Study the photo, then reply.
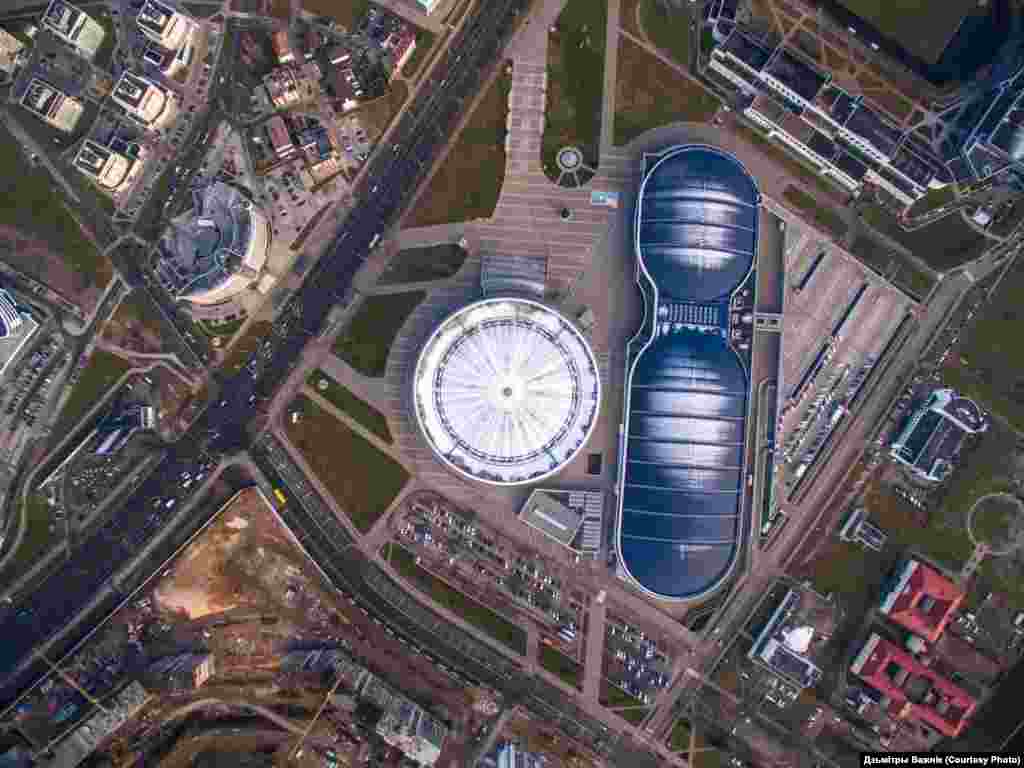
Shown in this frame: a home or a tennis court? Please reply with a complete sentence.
There is a home in the scene.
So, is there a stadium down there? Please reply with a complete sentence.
Yes, the frame does contain a stadium.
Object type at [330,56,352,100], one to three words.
building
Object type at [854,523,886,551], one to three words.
house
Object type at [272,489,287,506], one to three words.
vehicle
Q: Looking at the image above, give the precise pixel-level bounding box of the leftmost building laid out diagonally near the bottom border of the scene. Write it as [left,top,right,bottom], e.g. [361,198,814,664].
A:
[38,671,154,768]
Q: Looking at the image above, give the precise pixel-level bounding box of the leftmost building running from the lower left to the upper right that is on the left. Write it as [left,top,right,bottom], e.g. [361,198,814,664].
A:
[0,318,45,380]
